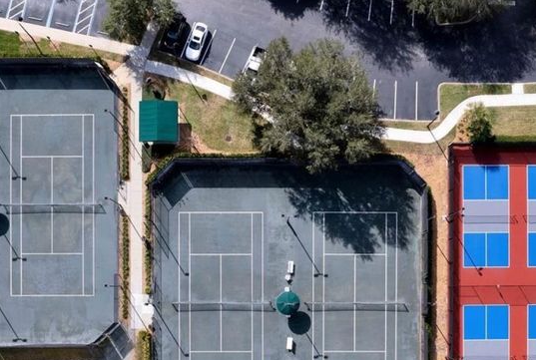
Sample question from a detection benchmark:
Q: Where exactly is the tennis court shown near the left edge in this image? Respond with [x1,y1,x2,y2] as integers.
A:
[0,66,119,346]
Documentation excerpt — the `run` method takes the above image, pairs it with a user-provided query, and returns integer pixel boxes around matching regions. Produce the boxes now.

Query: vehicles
[243,42,269,70]
[185,20,210,61]
[159,14,185,54]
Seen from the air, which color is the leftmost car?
black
